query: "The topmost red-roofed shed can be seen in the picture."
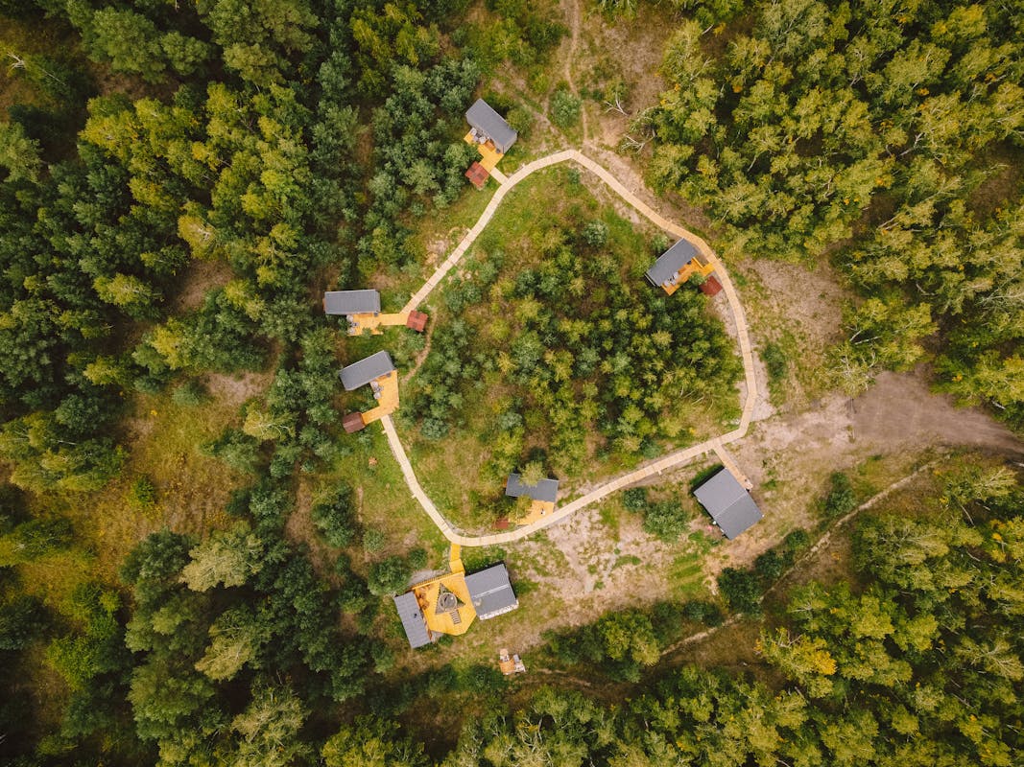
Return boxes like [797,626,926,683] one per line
[465,163,490,189]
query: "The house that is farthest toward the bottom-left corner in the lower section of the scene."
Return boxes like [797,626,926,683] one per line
[394,587,432,649]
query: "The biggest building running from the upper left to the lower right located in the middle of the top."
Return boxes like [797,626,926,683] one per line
[466,97,517,152]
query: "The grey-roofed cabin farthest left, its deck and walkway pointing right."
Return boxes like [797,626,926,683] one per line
[322,289,381,315]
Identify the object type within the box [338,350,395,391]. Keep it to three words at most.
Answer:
building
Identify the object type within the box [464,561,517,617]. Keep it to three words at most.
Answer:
house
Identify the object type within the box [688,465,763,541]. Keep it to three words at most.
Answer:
building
